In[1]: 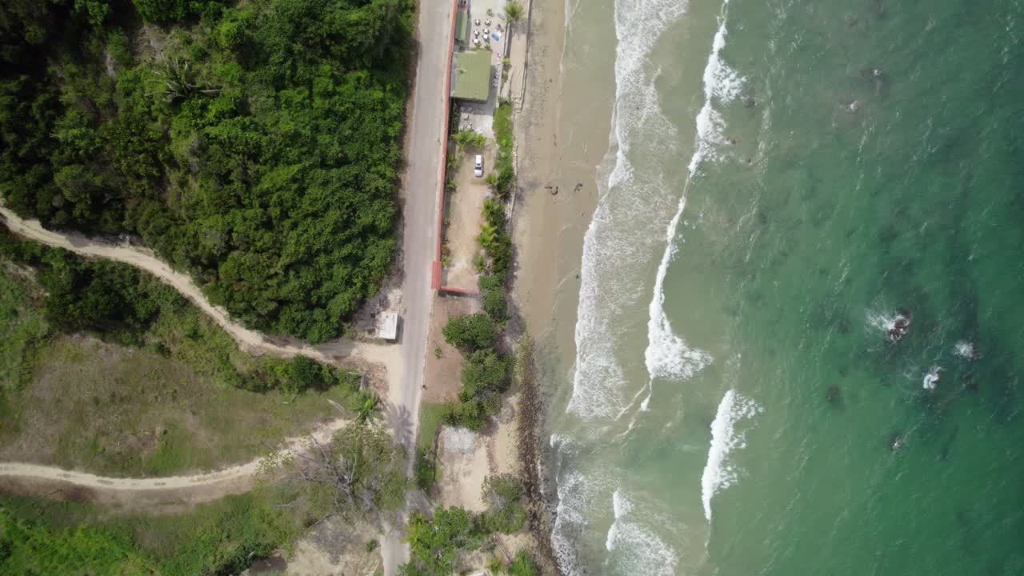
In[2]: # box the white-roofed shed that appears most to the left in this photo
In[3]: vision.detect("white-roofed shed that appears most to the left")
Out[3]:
[378,309,399,339]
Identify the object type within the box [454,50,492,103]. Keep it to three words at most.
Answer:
house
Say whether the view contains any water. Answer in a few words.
Yes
